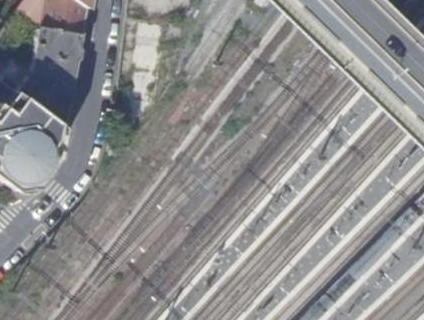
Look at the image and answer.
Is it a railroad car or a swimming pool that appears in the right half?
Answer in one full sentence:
You can see a railroad car in the right half.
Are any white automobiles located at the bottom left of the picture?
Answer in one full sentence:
Yes, at the bottom left of the picture there is a white automobile.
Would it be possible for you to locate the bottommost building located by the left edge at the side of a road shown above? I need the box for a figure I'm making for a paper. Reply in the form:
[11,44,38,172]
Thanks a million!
[0,98,75,196]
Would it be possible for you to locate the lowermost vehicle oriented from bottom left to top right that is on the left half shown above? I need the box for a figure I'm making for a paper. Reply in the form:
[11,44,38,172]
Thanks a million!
[4,250,24,271]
